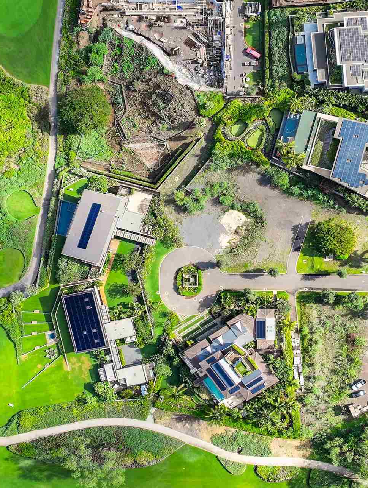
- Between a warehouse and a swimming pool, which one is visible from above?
swimming pool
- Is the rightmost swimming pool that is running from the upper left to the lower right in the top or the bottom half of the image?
bottom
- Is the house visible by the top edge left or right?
right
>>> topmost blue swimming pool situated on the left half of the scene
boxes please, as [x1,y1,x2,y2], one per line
[56,199,79,237]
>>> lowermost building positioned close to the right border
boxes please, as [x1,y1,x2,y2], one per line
[272,110,368,199]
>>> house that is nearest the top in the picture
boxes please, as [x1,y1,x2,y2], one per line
[304,8,368,90]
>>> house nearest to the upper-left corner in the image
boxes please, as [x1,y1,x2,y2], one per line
[62,187,156,266]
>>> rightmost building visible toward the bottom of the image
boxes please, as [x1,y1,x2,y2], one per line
[179,308,279,408]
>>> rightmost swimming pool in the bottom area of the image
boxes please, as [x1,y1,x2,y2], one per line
[203,375,226,403]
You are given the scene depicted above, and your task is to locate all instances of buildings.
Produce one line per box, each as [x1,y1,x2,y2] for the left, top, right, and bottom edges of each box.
[272,110,368,199]
[62,187,156,266]
[62,288,156,387]
[179,308,279,408]
[304,8,368,90]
